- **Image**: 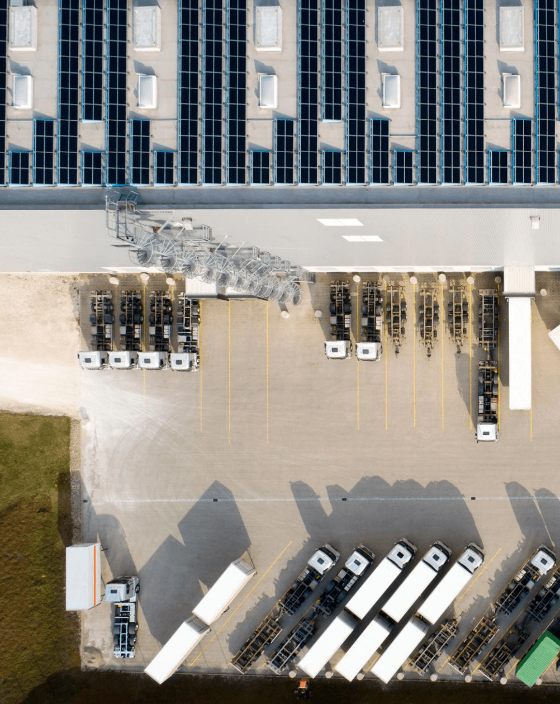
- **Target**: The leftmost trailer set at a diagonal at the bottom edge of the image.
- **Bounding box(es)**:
[230,611,285,675]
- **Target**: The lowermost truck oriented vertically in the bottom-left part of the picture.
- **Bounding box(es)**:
[106,571,141,653]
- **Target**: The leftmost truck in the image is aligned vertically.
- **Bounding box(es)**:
[80,293,115,374]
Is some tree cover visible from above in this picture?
No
